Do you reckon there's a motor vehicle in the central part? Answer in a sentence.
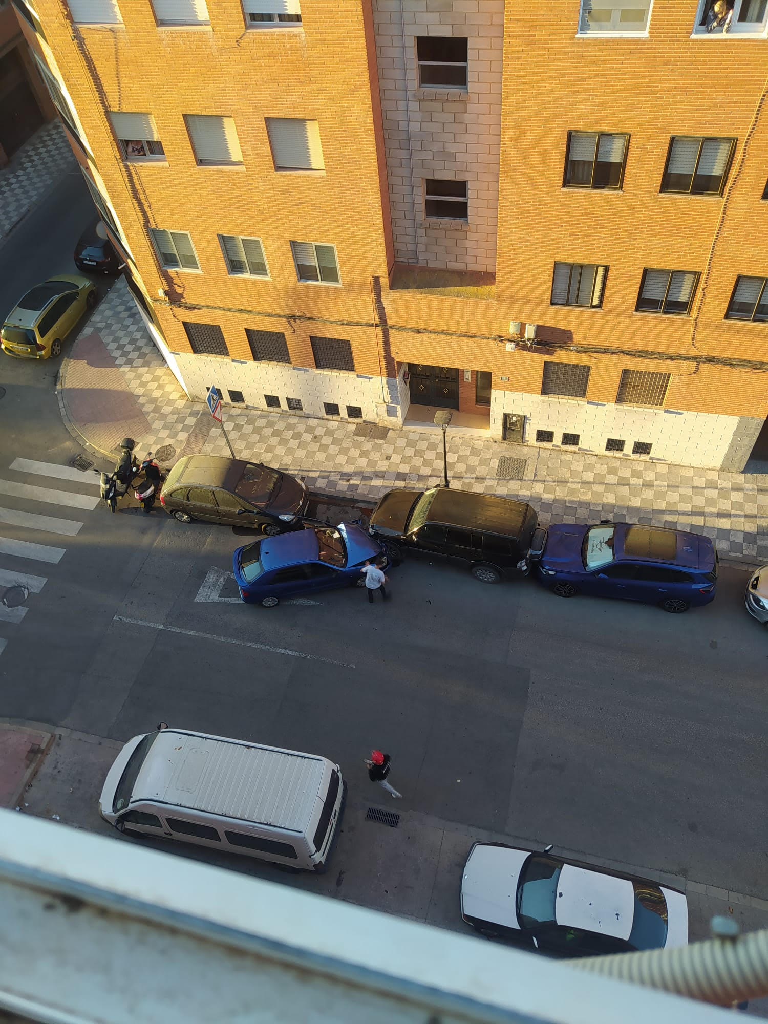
Yes, there is a motor vehicle in the central part.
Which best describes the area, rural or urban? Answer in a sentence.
The area shown here is urban.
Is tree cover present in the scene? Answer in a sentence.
No, the picture contains no tree cover.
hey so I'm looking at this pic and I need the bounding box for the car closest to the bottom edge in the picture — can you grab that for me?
[450,837,691,959]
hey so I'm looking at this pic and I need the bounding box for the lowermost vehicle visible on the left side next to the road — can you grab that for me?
[96,719,353,871]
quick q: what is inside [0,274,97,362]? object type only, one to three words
car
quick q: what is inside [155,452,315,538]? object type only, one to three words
car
